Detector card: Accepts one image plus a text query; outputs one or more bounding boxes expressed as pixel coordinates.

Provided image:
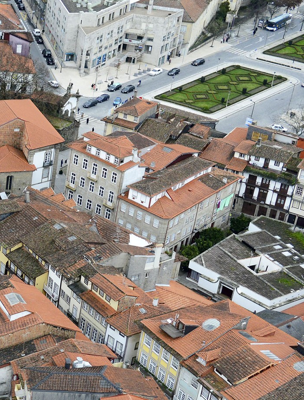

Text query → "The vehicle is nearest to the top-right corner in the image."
[266,12,294,32]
